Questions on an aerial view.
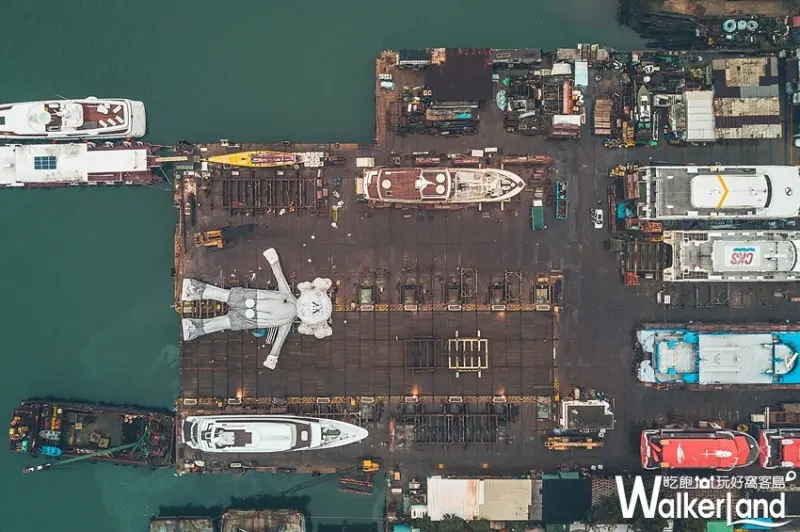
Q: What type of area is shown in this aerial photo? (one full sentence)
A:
The picture captures a port.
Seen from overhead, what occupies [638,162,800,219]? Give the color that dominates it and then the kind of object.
white ship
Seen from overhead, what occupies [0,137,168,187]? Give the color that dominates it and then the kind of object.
white boat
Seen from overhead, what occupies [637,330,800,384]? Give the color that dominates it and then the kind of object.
white ship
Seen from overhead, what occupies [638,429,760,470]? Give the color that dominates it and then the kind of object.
red ship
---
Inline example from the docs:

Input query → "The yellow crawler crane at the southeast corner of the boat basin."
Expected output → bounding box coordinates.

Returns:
[284,458,381,496]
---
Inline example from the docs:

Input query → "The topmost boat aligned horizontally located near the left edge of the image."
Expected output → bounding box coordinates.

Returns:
[0,94,149,139]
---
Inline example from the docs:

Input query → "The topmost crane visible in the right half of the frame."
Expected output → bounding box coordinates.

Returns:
[545,437,604,449]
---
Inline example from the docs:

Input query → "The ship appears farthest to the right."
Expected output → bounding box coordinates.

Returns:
[754,429,800,470]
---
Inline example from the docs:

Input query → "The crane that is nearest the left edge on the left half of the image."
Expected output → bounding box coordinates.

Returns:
[194,224,262,248]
